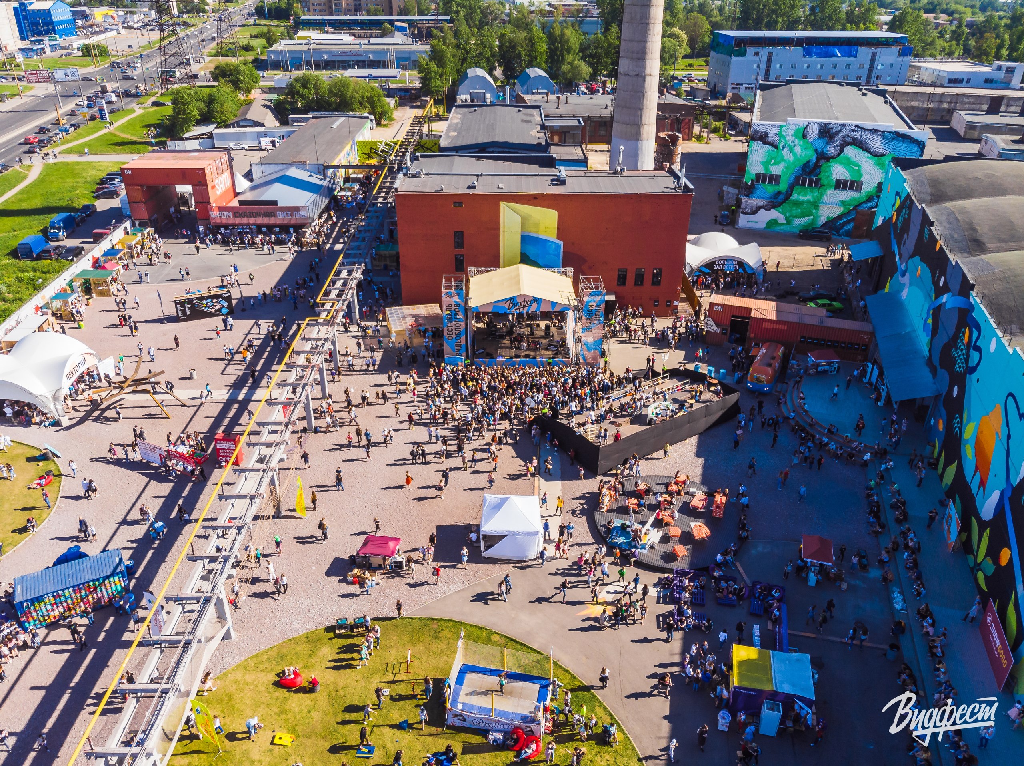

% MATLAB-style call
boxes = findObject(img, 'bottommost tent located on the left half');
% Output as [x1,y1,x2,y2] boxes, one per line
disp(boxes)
[358,536,410,585]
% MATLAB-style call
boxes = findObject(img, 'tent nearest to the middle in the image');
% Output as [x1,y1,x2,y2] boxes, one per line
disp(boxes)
[482,494,542,563]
